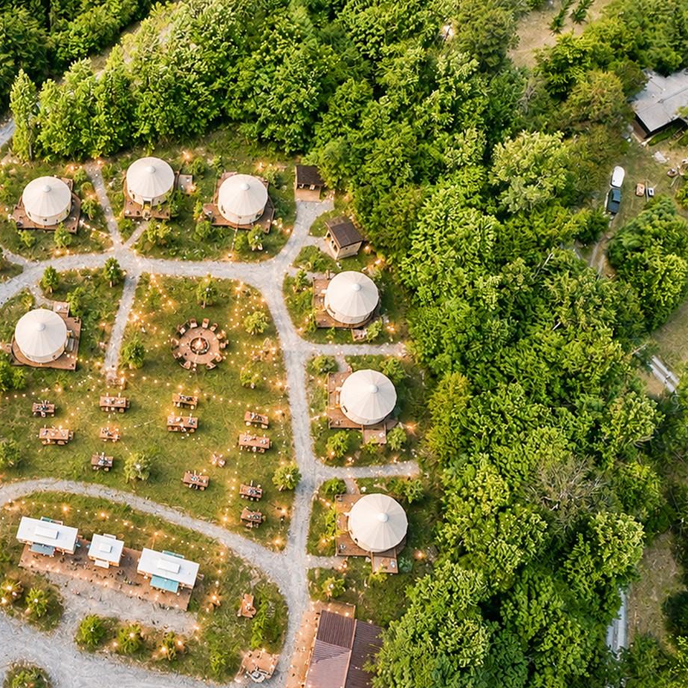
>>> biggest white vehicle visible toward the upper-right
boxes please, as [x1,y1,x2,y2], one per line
[607,165,625,190]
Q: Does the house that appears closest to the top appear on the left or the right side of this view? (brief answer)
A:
right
